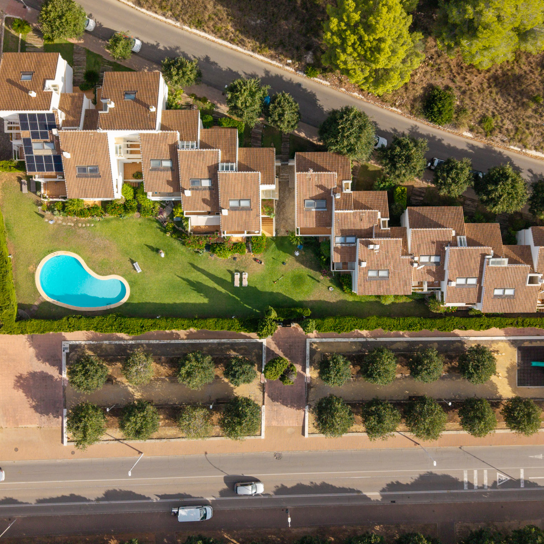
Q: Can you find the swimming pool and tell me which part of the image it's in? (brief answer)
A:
left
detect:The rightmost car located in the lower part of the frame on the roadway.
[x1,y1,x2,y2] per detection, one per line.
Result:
[233,480,264,496]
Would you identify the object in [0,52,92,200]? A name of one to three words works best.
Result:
house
